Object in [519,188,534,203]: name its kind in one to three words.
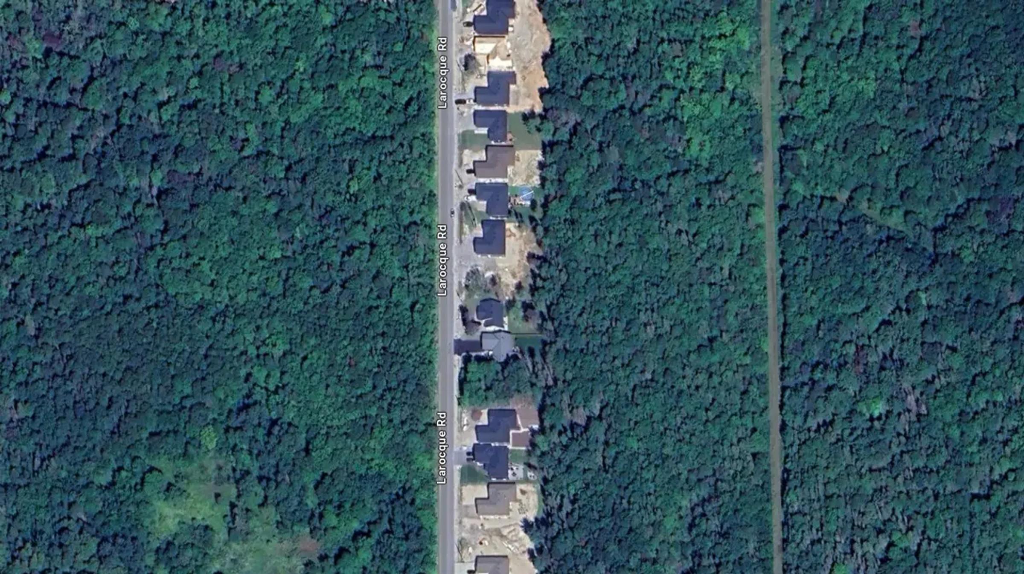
swimming pool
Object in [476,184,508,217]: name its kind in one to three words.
house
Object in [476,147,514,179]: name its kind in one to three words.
house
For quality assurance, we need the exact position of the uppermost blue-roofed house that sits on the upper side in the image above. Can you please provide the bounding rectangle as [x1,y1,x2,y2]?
[474,0,515,35]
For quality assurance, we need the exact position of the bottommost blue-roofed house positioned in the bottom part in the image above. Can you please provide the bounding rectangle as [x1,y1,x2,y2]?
[474,445,508,480]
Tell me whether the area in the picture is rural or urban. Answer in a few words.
rural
